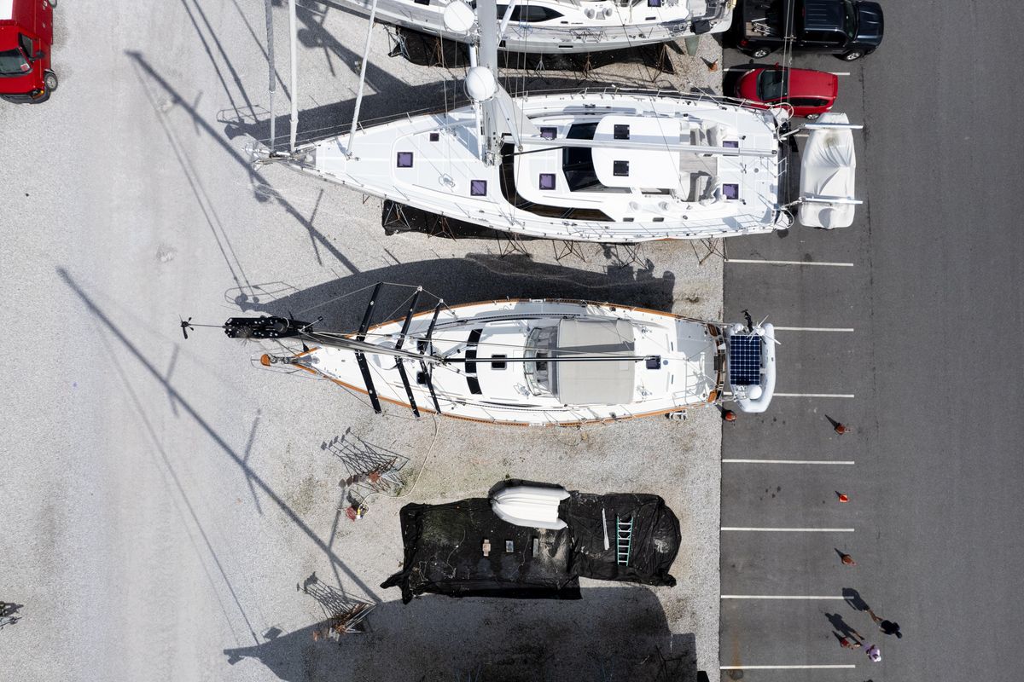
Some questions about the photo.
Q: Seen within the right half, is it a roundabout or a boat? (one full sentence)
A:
The one visible within the right half is a boat.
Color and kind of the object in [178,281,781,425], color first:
white boat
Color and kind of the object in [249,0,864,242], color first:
white boat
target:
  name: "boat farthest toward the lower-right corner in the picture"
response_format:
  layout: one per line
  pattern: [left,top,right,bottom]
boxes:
[723,309,779,415]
